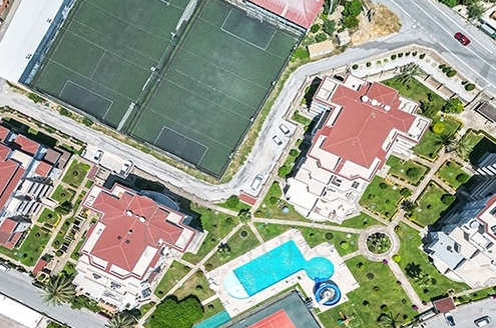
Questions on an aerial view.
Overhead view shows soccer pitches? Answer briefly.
Yes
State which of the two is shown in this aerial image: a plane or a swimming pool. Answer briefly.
swimming pool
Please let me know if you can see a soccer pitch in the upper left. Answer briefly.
Yes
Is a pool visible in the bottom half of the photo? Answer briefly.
Yes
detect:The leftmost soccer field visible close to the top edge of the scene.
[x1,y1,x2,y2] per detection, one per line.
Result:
[33,0,189,128]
